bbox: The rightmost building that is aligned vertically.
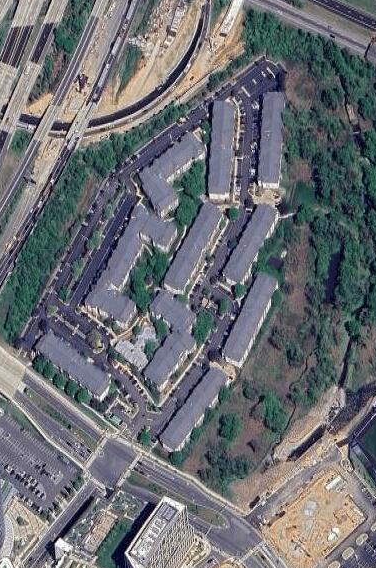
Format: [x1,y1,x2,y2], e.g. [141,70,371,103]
[257,92,285,189]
